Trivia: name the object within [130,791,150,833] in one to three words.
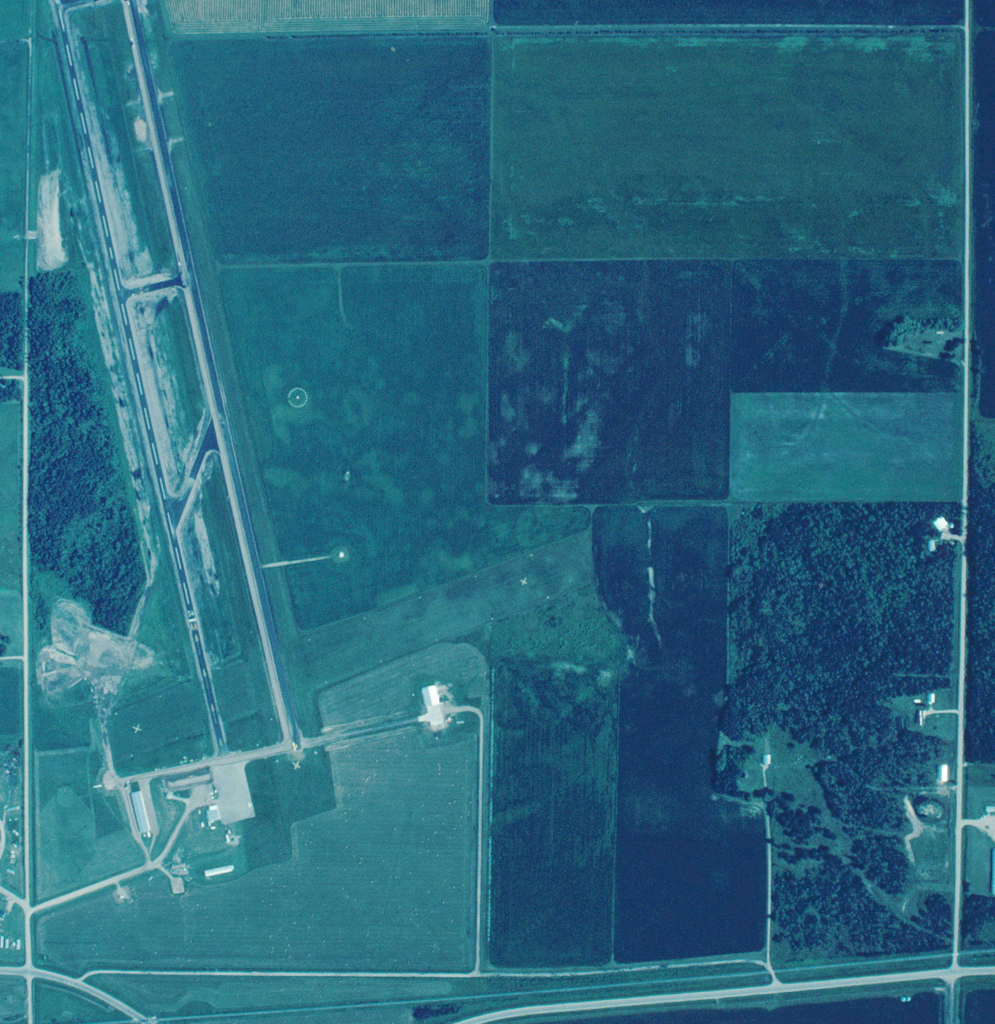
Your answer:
hangar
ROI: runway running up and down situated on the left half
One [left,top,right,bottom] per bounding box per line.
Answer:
[53,0,225,755]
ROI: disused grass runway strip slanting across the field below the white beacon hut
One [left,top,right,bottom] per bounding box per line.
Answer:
[294,527,598,732]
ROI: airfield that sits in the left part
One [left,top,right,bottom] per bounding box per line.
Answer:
[50,0,443,894]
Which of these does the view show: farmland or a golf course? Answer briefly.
farmland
